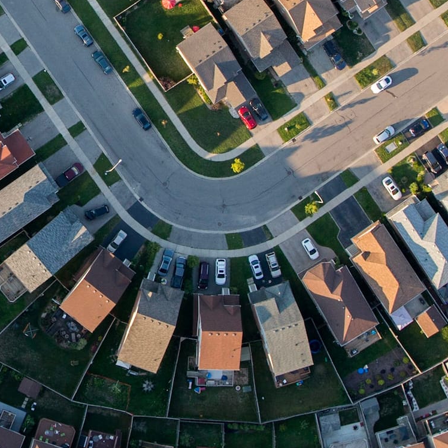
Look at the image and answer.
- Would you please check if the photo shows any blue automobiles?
Yes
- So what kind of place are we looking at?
residential area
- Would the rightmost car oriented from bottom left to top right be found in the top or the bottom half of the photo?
top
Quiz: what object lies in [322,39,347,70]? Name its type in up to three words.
truck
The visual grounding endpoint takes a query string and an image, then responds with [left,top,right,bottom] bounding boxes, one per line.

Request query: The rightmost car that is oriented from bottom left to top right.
[406,118,434,140]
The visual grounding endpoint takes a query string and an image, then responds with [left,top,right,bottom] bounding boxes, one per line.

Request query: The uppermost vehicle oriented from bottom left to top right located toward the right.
[370,73,397,96]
